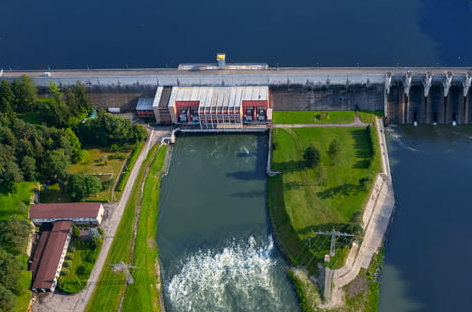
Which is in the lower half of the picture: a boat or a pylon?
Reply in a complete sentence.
There is a pylon in the lower half of the picture.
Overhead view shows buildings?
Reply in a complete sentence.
Yes, I can see a building in this picture.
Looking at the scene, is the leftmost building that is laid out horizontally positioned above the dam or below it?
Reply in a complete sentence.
It's below the dam that the leftmost building that is laid out horizontally shows up.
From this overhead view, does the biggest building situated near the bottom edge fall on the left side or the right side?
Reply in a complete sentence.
The biggest building situated near the bottom edge sits on the left side.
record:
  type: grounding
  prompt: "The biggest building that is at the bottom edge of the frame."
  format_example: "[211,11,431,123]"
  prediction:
[34,218,73,297]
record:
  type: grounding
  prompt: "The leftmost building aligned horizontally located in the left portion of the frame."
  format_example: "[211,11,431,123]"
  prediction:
[27,203,105,224]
